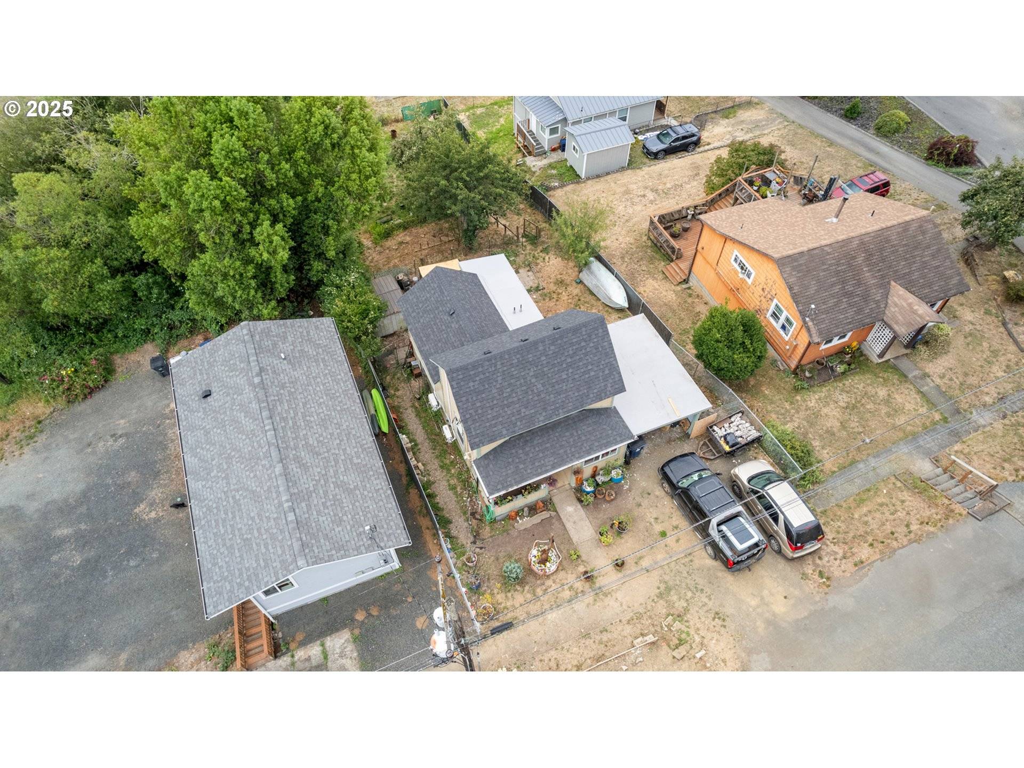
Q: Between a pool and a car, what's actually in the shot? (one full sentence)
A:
I can see a car in this picture.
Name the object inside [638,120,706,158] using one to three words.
car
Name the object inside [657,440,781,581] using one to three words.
truck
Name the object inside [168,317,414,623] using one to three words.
house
